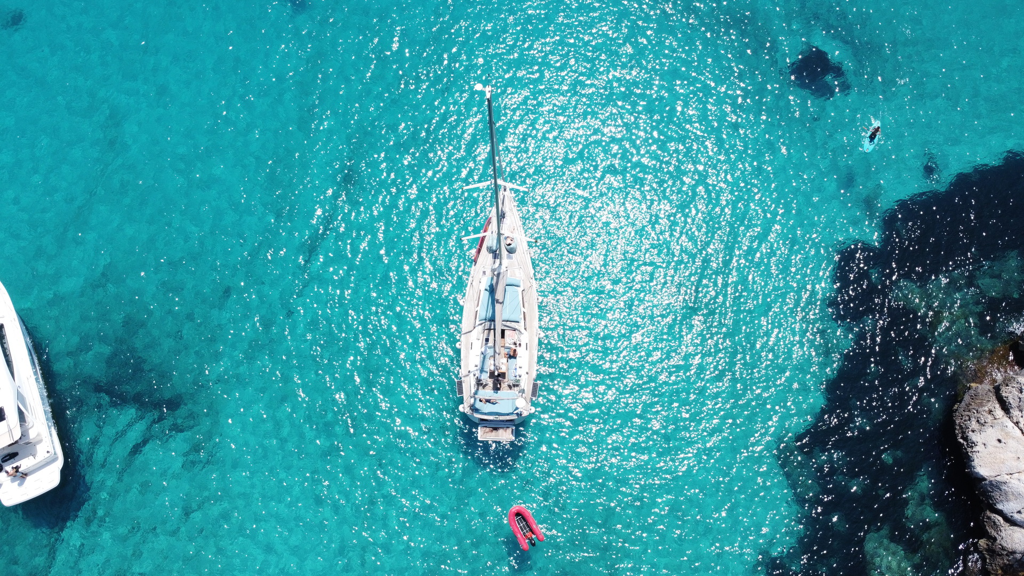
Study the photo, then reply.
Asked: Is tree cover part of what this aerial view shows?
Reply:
No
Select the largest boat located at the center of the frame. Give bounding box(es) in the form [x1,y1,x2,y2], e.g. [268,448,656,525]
[456,74,540,442]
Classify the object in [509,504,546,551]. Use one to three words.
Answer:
boat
